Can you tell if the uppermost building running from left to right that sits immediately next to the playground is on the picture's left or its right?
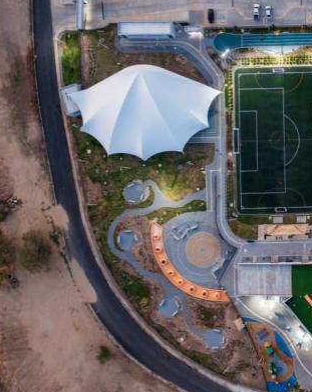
right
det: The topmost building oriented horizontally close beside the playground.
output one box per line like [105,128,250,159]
[235,262,312,296]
